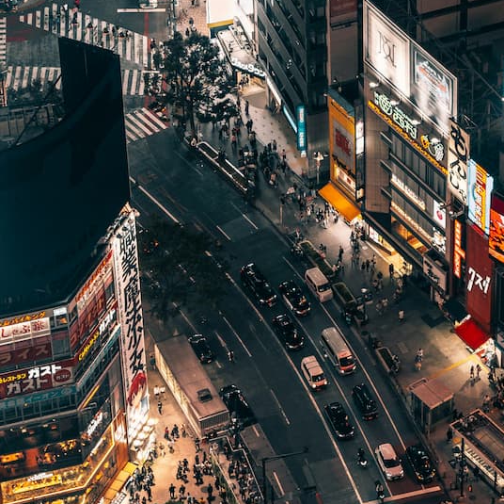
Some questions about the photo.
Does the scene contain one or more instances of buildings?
Yes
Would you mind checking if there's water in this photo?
No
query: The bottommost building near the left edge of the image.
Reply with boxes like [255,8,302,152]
[0,199,170,504]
